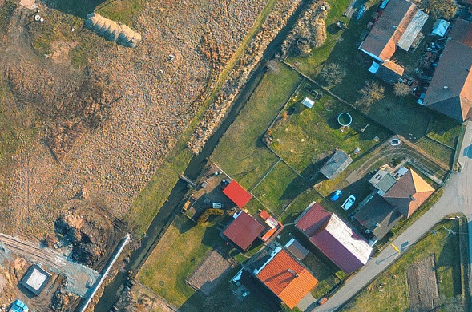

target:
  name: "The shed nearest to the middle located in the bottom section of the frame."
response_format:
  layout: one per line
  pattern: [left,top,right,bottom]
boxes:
[221,179,252,209]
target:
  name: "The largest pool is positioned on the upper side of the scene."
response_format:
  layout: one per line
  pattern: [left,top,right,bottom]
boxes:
[338,113,353,127]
